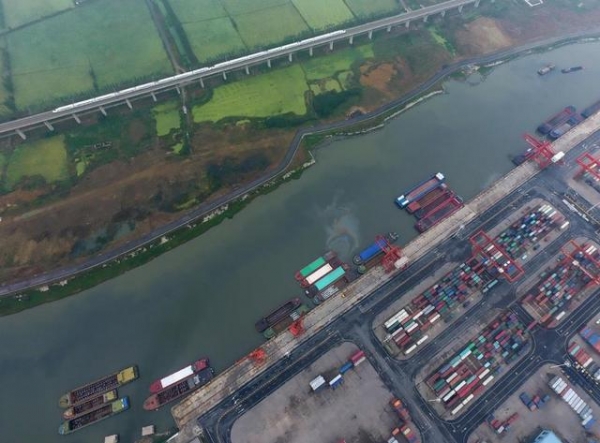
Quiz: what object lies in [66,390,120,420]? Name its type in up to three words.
ship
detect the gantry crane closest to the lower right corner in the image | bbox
[554,239,600,296]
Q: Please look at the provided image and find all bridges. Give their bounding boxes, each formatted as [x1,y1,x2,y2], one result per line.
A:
[0,0,496,139]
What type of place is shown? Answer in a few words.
port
